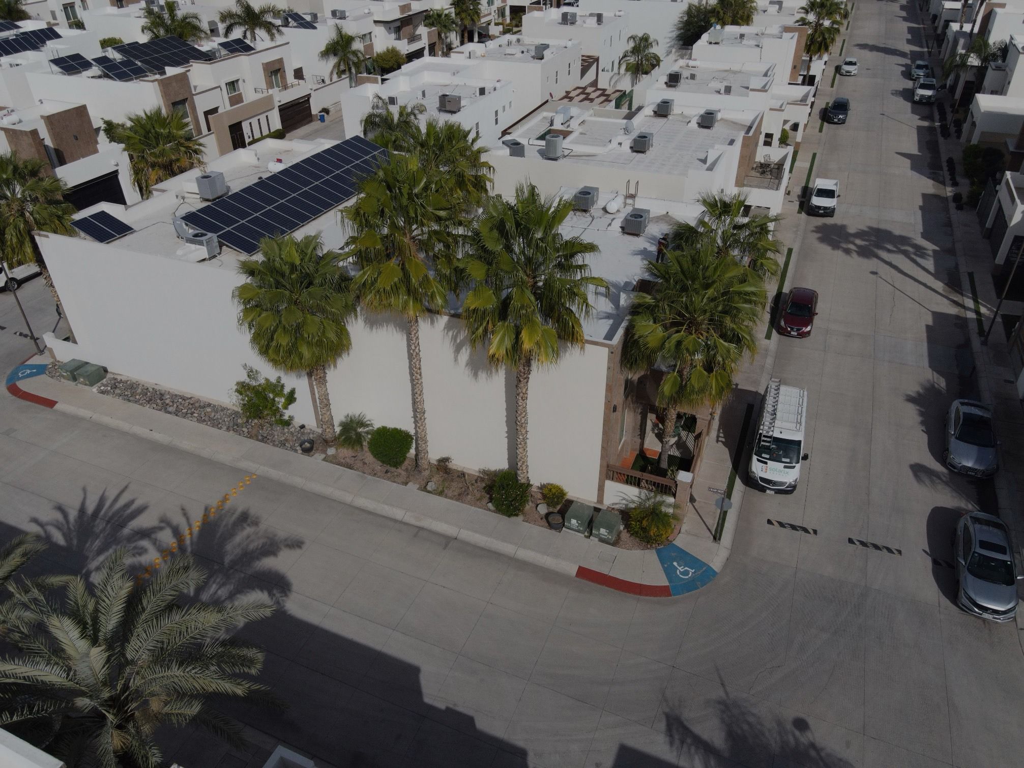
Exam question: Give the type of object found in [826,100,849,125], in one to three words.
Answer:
car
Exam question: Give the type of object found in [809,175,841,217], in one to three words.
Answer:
truck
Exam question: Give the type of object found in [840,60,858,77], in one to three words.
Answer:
car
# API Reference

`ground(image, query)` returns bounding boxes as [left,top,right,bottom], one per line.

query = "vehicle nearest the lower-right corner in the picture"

[957,522,1024,627]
